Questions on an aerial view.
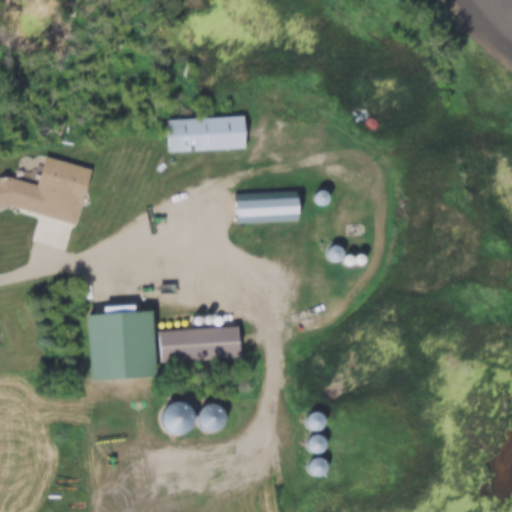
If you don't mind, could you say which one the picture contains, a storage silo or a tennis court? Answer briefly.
storage silo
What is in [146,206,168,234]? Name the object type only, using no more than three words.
work vehicle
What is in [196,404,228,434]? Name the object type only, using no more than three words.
silo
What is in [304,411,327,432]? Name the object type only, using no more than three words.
silo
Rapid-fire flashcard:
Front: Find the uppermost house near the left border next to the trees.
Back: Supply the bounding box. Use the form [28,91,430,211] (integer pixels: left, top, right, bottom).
[0,156,92,225]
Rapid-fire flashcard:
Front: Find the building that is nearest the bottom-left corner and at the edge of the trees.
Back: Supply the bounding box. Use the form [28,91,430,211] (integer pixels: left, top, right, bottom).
[88,312,156,380]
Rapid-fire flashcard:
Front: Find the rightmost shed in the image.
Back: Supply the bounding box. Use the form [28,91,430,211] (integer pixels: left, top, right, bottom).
[235,191,300,224]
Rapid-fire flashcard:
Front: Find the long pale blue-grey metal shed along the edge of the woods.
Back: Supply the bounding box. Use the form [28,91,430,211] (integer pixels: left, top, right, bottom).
[167,116,247,153]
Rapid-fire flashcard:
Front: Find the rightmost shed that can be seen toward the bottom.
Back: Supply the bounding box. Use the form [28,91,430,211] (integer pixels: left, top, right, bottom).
[159,326,242,362]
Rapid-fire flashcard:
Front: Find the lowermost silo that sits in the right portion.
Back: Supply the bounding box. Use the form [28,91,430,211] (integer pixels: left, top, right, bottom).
[305,456,329,478]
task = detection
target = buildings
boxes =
[167,116,247,153]
[0,156,92,225]
[88,312,156,380]
[235,191,300,224]
[159,326,242,362]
